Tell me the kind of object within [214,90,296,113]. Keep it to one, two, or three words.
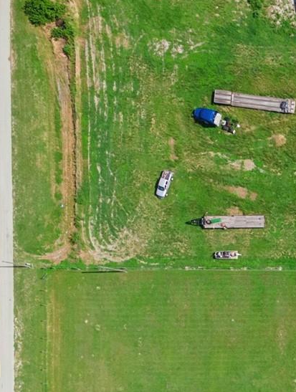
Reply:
trailer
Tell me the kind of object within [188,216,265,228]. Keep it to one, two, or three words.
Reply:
vehicle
